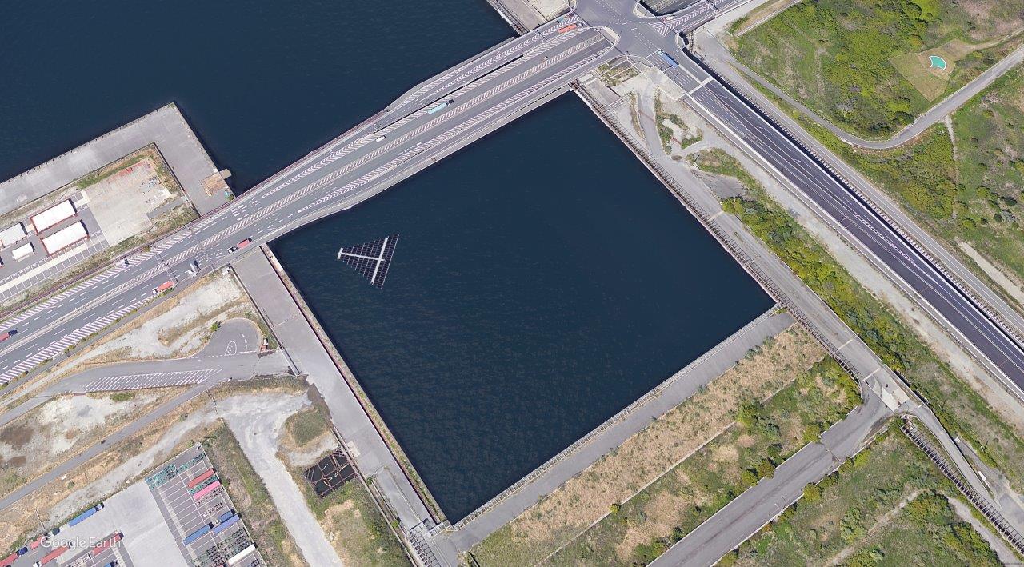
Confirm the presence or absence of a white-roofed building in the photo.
Yes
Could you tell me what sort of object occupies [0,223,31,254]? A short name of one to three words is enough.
building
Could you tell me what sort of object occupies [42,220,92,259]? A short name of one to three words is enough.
building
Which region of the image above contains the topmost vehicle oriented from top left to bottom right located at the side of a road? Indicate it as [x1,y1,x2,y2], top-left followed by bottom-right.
[657,51,679,71]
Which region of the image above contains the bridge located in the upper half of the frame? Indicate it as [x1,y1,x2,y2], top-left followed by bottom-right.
[219,10,626,244]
